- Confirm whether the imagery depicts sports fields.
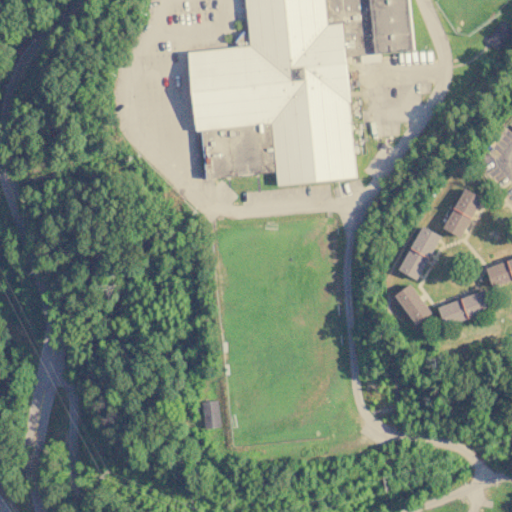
Yes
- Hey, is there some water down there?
No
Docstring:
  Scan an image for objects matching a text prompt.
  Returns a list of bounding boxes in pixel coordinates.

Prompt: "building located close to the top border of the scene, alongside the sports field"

[188,0,358,187]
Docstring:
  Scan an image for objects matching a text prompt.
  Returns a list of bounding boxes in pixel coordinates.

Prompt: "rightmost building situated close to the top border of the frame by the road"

[372,0,416,54]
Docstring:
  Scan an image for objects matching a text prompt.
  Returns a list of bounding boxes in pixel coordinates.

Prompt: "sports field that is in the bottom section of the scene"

[217,214,346,446]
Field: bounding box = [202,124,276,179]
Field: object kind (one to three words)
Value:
building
